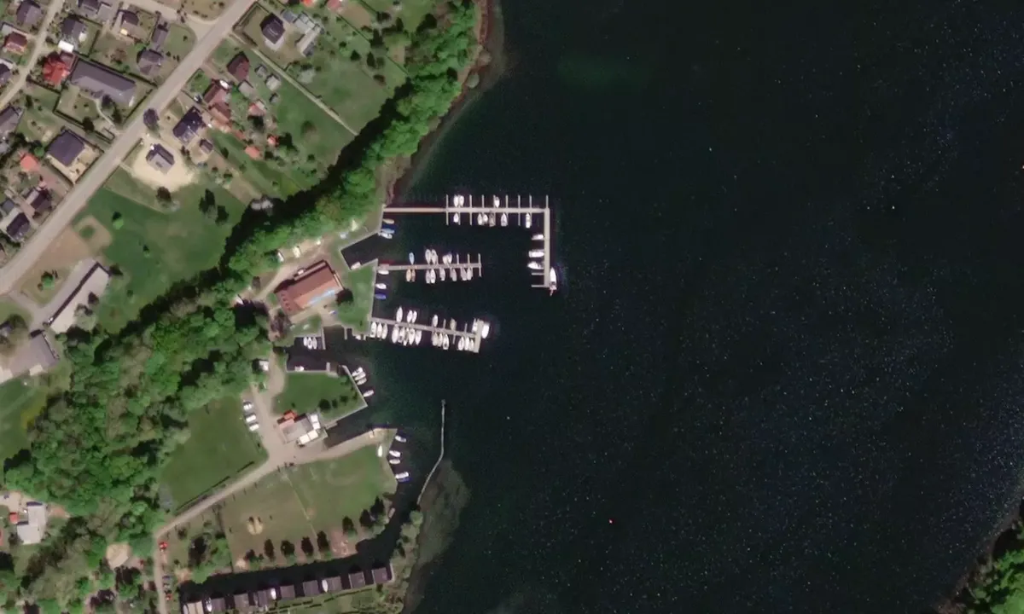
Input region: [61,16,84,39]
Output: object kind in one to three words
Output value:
house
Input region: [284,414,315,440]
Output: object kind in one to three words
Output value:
building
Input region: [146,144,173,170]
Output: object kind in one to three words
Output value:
house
